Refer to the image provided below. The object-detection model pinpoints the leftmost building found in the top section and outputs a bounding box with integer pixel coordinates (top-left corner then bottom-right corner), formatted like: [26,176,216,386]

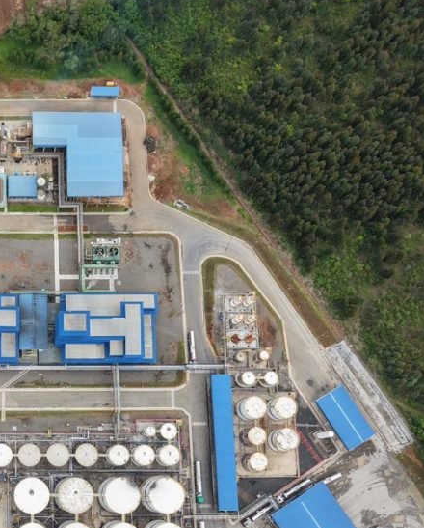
[8,175,37,201]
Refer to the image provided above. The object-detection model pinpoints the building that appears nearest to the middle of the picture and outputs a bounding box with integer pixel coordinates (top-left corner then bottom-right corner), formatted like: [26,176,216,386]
[60,294,157,364]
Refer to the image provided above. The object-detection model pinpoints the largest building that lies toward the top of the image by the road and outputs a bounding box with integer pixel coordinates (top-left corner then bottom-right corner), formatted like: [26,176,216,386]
[32,112,124,204]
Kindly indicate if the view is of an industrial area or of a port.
industrial area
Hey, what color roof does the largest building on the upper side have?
blue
